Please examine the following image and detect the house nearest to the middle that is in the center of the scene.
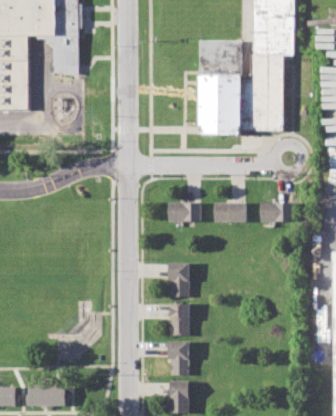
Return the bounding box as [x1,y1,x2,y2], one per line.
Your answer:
[164,201,191,226]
